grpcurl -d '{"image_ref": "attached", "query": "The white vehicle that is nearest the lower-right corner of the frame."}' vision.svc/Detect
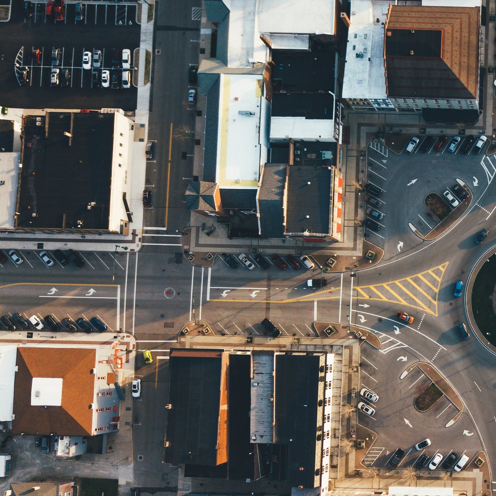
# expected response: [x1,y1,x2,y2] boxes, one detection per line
[453,451,471,475]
